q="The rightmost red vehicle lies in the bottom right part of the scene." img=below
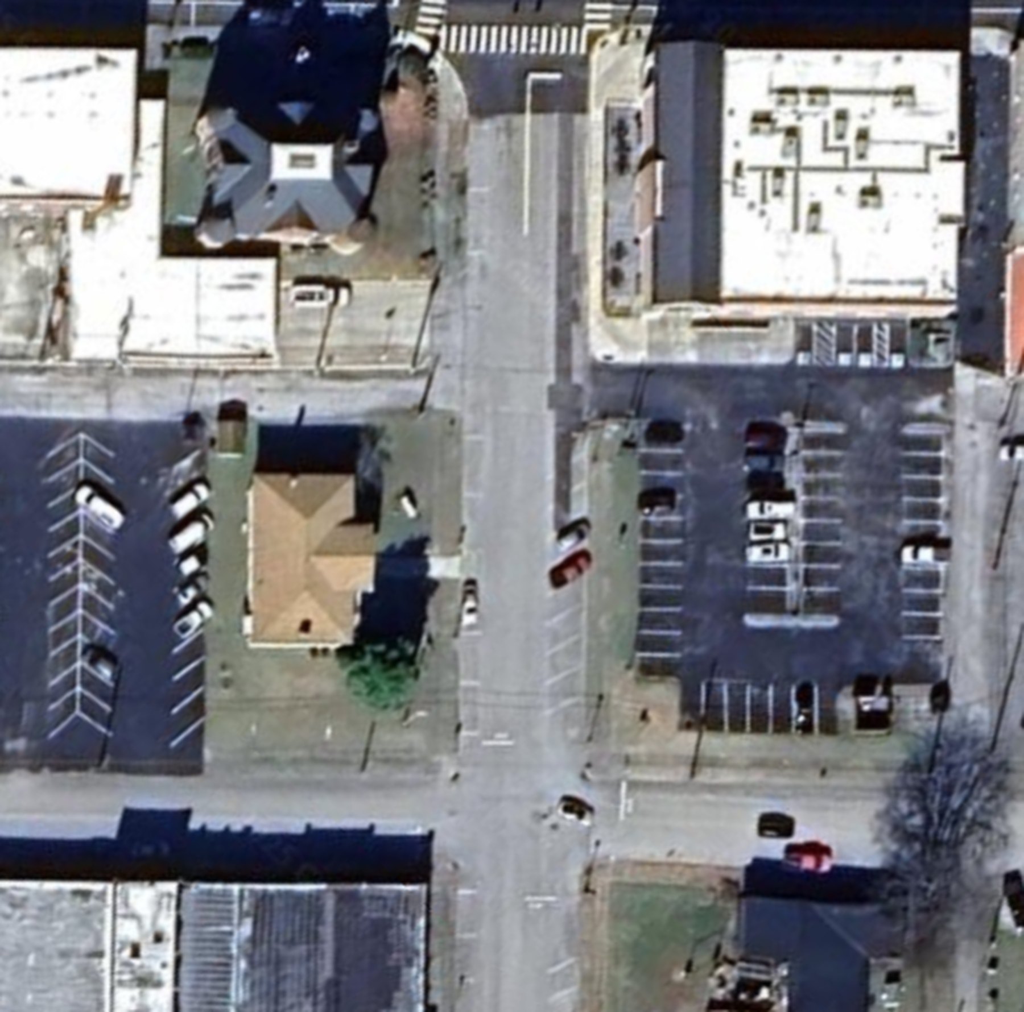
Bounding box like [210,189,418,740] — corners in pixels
[785,847,831,867]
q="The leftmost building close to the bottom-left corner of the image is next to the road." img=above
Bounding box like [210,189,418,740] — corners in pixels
[0,880,114,1012]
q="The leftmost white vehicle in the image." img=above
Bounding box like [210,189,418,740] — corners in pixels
[77,484,123,528]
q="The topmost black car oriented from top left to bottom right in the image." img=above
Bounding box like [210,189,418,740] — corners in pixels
[80,643,123,682]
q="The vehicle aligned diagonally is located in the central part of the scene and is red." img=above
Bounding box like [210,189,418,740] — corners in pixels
[548,552,594,587]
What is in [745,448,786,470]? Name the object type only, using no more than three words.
car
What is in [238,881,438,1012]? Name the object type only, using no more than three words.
building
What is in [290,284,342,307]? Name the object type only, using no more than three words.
vehicle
